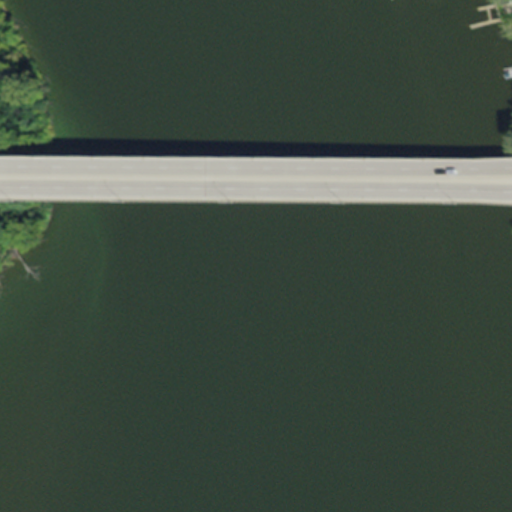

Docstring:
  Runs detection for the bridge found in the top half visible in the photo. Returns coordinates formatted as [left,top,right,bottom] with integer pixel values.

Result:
[0,156,512,206]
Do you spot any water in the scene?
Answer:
Yes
